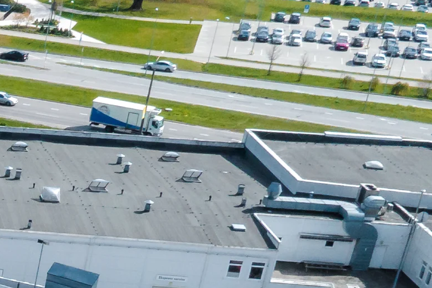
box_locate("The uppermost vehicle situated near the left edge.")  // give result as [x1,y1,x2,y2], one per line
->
[0,49,31,63]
